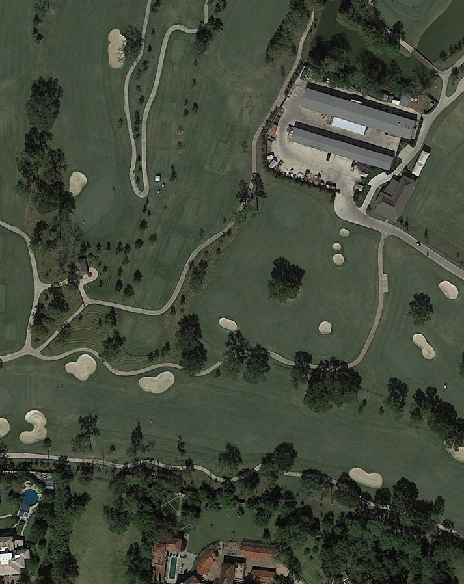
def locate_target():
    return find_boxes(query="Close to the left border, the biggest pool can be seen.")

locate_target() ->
[17,487,41,518]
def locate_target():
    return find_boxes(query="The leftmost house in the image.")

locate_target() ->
[0,536,32,584]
